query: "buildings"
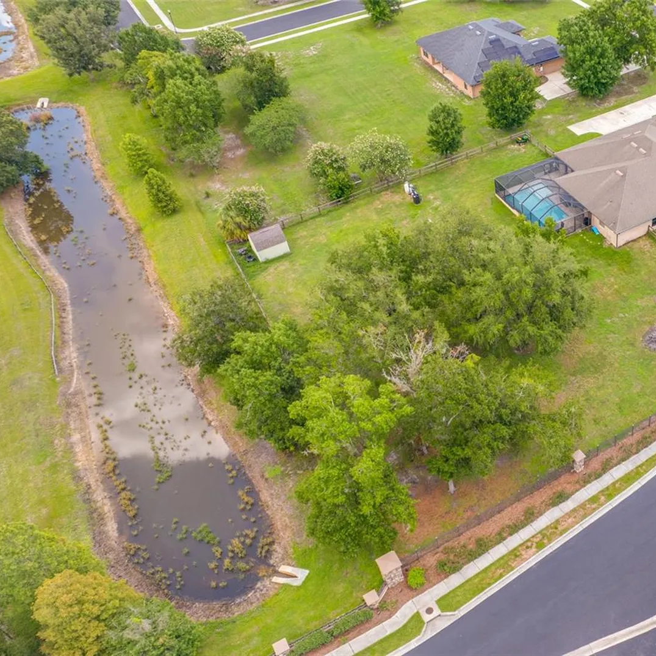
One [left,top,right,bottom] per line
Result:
[548,116,656,247]
[414,16,564,97]
[248,224,290,262]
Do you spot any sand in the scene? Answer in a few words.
No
